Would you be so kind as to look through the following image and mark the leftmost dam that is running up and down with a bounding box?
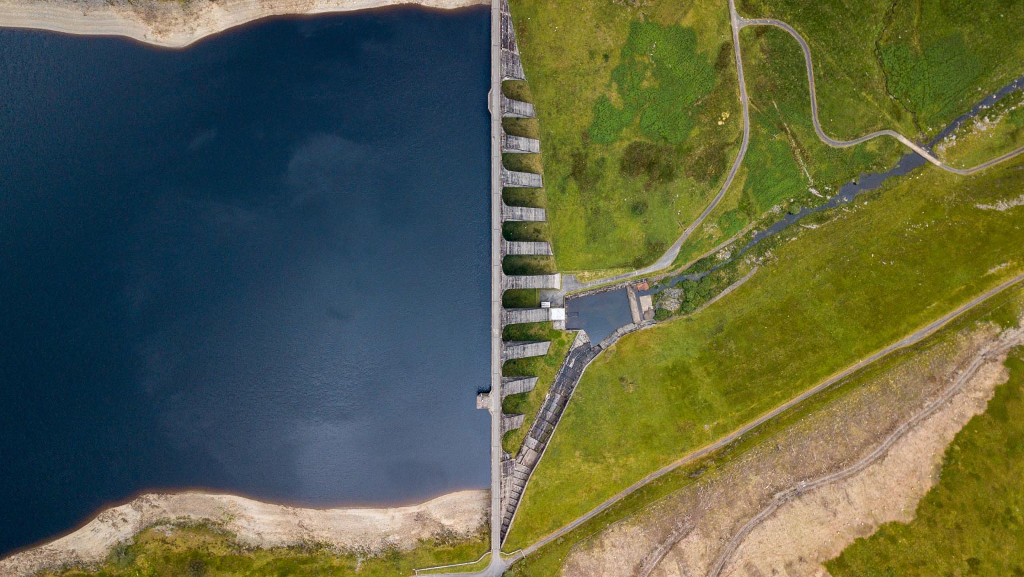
[477,0,557,553]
